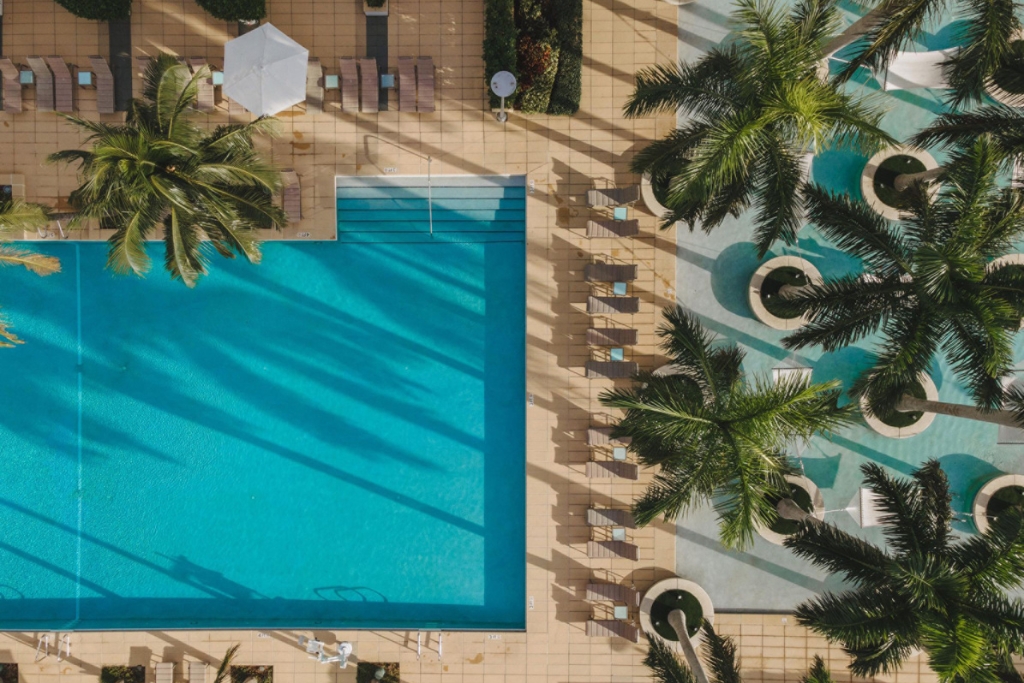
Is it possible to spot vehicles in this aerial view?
No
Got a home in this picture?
No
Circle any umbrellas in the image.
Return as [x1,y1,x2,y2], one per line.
[223,22,310,119]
